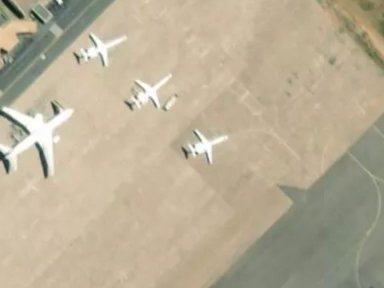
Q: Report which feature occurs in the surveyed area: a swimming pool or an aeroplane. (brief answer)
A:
aeroplane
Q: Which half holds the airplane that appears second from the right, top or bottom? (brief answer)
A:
top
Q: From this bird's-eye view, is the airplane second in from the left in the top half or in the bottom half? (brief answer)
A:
top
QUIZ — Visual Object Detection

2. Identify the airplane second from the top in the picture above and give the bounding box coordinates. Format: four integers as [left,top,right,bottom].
[130,75,171,110]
